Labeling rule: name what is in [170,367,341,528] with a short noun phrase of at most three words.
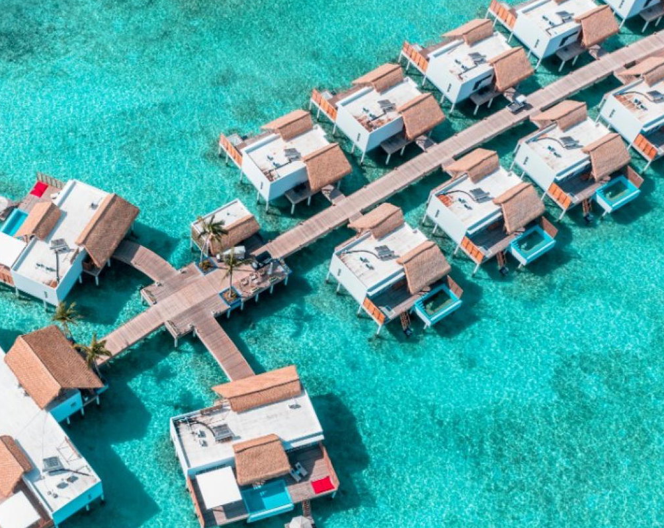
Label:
house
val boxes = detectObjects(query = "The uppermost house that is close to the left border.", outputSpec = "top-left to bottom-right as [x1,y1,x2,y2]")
[0,171,138,310]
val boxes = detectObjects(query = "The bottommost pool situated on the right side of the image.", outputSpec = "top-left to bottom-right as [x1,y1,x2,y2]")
[414,283,464,327]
